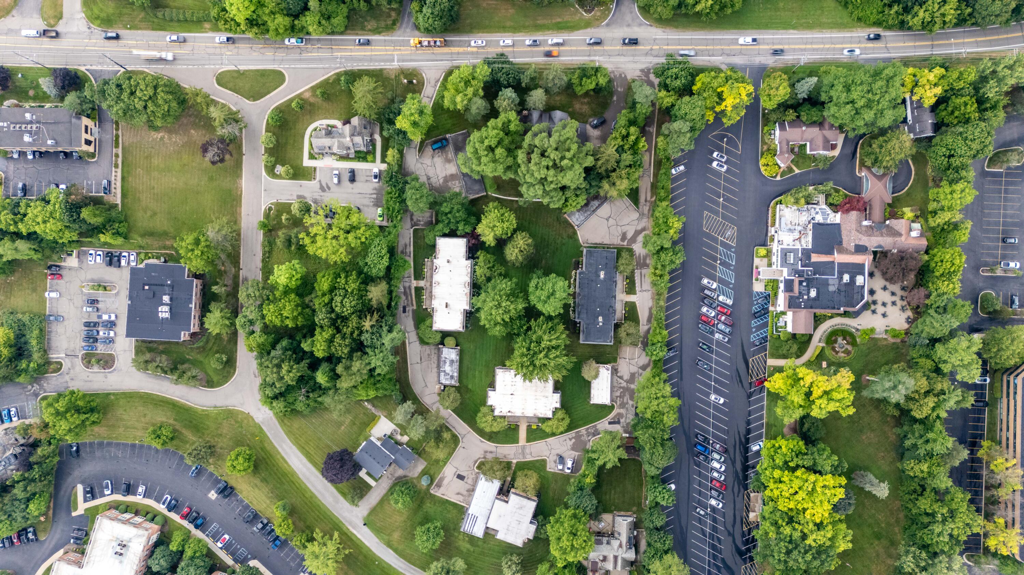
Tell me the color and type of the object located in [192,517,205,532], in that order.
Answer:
blue vehicle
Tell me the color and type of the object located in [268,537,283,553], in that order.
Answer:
blue vehicle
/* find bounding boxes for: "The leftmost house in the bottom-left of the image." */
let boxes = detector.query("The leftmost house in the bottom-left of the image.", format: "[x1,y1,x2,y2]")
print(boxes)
[0,425,32,470]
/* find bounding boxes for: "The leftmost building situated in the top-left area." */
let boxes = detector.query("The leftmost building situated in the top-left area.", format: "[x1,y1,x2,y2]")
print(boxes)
[0,107,99,155]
